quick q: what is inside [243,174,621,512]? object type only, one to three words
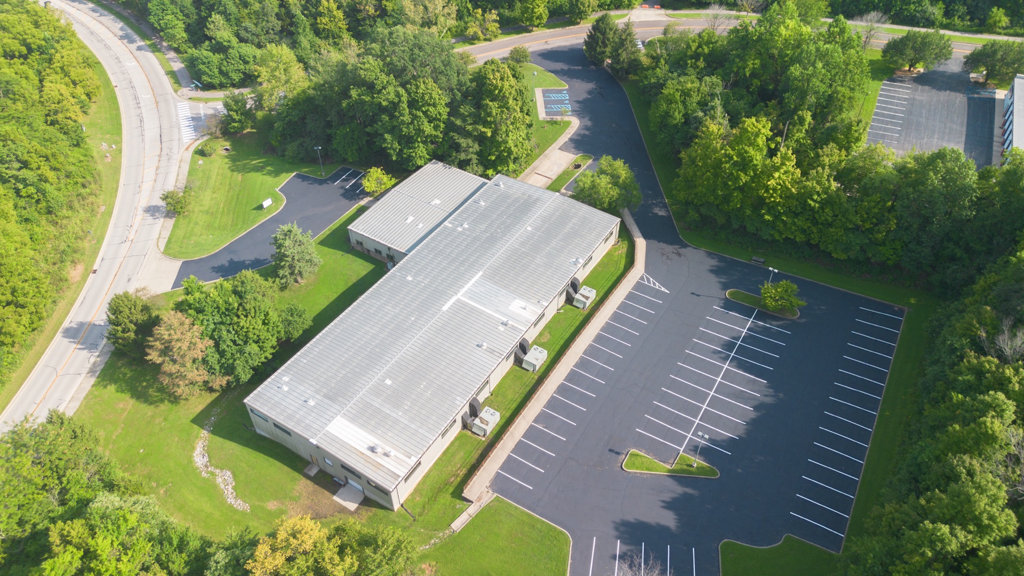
building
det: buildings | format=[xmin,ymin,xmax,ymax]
[243,174,621,512]
[1000,70,1024,196]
